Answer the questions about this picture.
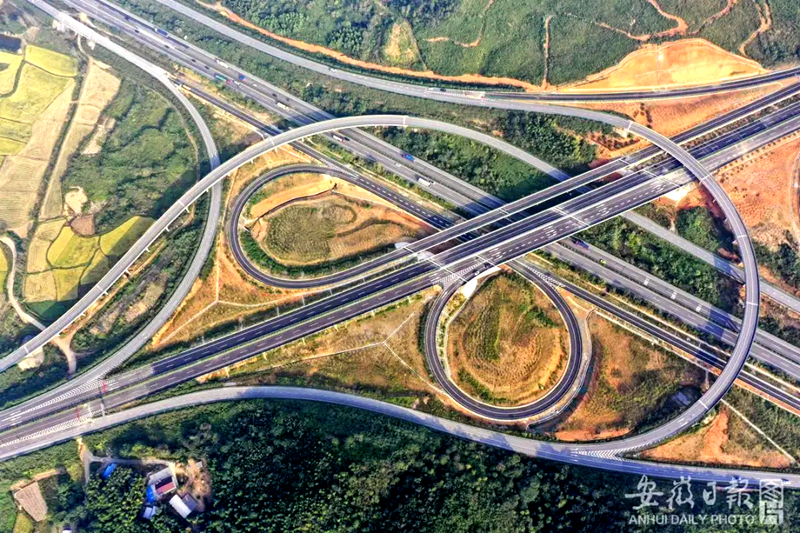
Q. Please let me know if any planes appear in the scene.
No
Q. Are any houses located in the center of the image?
No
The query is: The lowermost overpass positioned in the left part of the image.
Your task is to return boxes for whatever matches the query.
[0,115,406,372]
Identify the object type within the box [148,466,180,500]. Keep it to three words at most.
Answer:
house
